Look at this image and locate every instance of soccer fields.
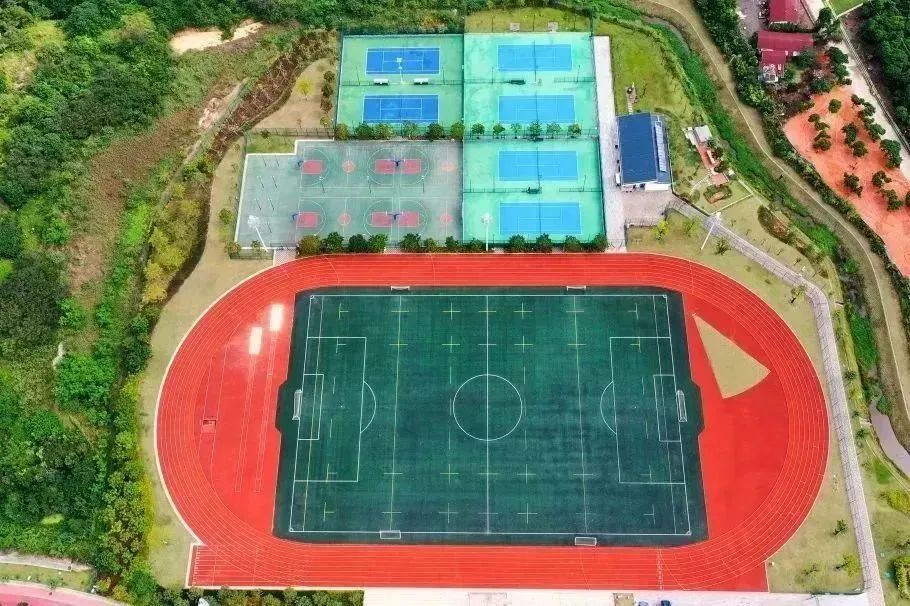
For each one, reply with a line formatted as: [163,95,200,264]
[272,286,708,546]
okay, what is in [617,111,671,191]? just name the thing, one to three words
building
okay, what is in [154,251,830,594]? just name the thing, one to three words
running track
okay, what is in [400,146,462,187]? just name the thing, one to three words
basketball court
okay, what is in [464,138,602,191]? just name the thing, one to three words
tennis court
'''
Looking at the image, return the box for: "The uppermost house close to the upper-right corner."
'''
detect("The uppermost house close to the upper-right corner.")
[763,0,797,28]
